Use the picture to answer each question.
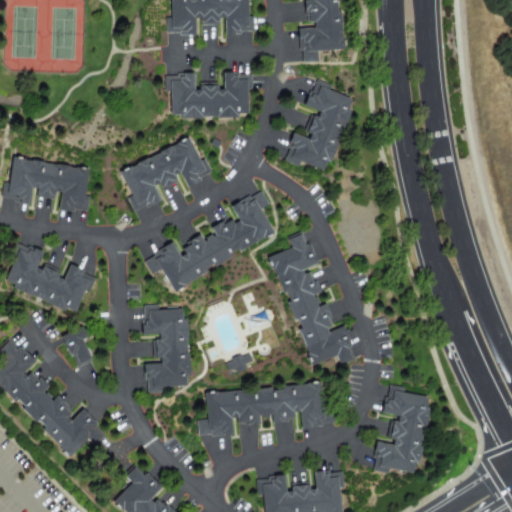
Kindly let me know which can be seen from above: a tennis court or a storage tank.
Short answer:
tennis court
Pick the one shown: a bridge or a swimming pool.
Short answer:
swimming pool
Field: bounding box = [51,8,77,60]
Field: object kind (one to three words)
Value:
tennis court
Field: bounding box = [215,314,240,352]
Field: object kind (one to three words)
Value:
swimming pool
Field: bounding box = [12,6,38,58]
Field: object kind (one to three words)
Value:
tennis court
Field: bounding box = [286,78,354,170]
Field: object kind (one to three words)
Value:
building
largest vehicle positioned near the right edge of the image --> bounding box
[497,364,510,383]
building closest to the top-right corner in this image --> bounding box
[300,0,344,58]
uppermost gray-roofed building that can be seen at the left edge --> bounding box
[0,158,88,210]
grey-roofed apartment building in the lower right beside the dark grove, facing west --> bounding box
[376,385,428,473]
